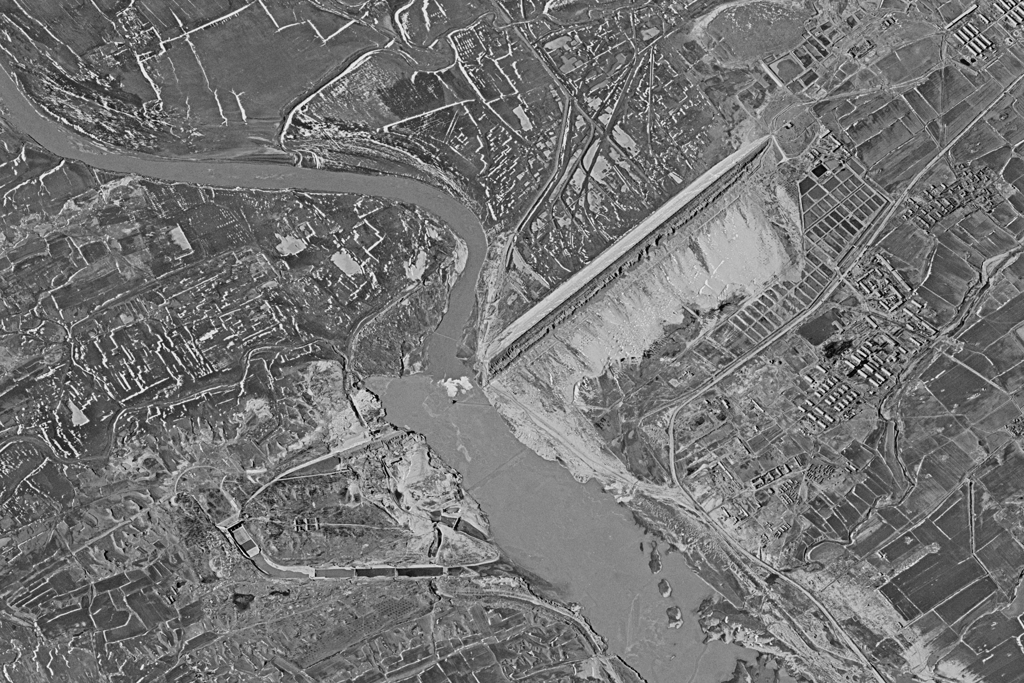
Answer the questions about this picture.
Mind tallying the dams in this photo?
2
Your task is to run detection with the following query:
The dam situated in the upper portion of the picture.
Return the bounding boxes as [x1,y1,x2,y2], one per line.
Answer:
[478,134,772,368]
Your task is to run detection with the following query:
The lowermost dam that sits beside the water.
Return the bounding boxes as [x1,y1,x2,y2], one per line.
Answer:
[268,428,410,480]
